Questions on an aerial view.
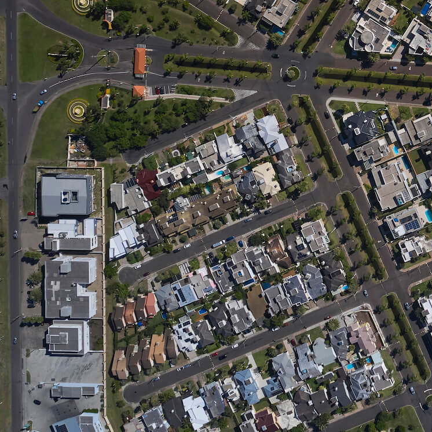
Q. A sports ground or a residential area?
residential area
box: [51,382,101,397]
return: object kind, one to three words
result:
building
